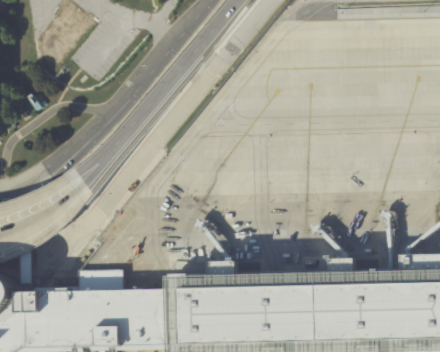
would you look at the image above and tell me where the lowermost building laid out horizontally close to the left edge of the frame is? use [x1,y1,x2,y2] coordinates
[0,288,163,352]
